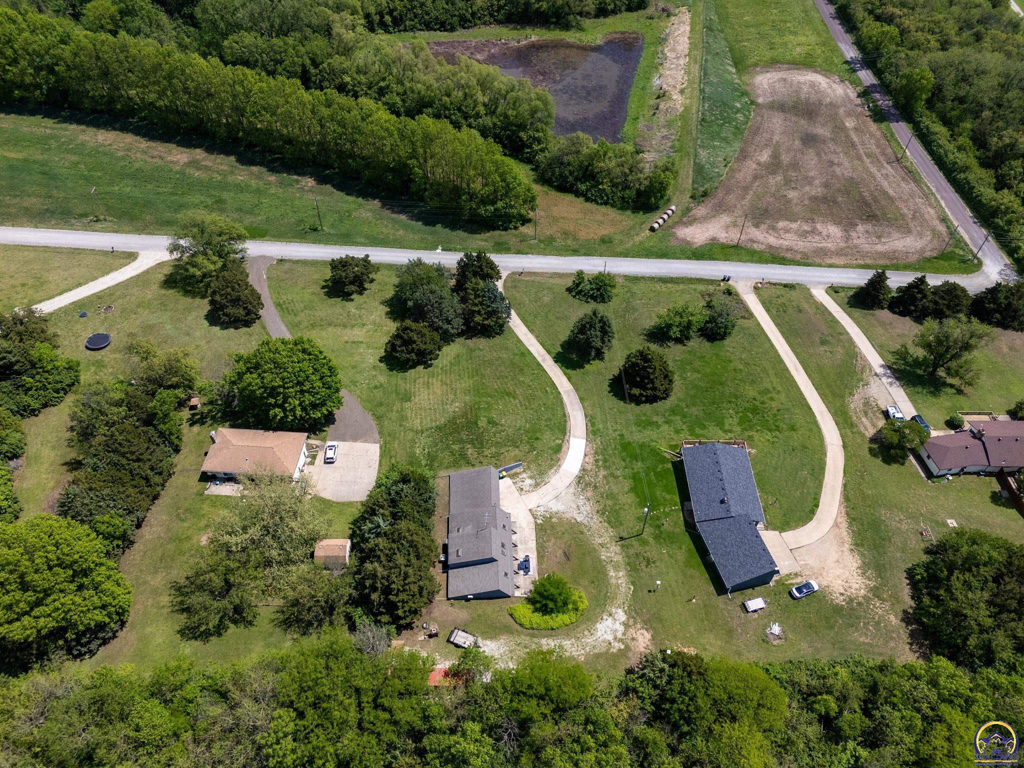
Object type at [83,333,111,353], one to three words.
trampoline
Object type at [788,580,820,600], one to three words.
car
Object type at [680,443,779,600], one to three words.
house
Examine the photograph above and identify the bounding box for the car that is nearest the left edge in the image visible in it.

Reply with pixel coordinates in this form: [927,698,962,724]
[322,441,338,464]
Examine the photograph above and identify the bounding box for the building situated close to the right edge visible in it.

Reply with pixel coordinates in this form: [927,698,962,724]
[922,420,1024,478]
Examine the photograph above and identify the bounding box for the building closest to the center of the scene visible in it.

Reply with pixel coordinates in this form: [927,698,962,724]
[431,465,521,601]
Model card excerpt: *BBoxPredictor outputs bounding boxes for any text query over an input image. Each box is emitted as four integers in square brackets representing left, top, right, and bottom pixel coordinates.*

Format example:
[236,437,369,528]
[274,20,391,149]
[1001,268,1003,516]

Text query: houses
[201,427,308,485]
[431,465,521,601]
[680,443,779,600]
[922,420,1024,478]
